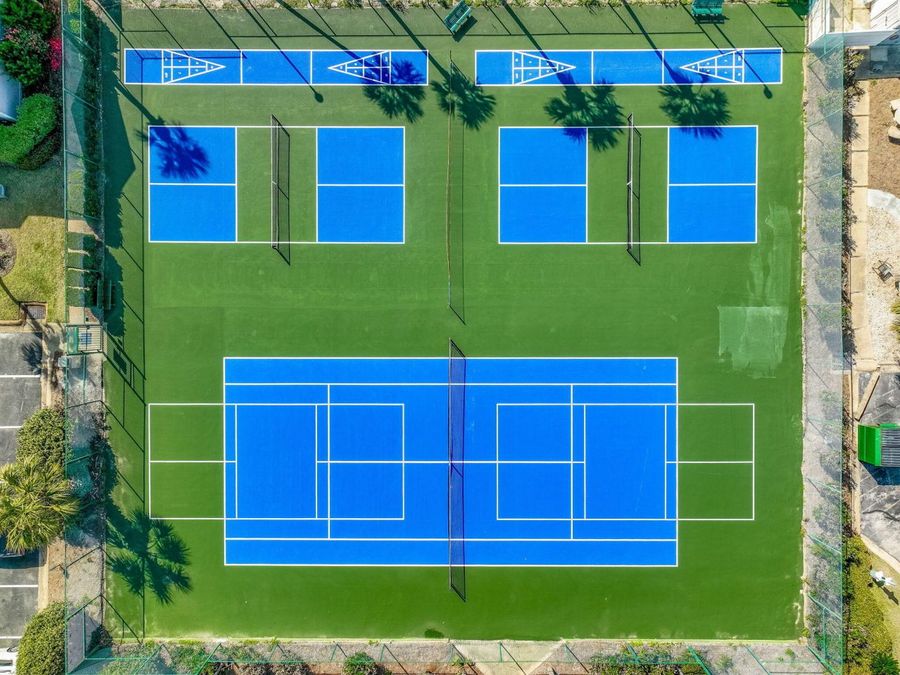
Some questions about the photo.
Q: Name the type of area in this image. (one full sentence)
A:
What you see here is a sports ground.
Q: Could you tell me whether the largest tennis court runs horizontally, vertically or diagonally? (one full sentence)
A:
From this overhead view, the largest tennis court appears to run horizontally.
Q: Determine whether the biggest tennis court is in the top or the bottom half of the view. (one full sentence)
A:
The biggest tennis court sits in the bottom half of the picture.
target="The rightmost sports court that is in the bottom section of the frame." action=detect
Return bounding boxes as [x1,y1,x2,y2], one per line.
[497,403,756,520]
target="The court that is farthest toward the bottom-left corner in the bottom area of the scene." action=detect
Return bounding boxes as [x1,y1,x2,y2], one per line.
[147,403,403,520]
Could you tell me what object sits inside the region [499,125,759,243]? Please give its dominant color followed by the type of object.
blue sports court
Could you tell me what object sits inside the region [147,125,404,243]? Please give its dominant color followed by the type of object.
blue sports court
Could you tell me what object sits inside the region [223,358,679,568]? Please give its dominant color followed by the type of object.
blue tennis court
